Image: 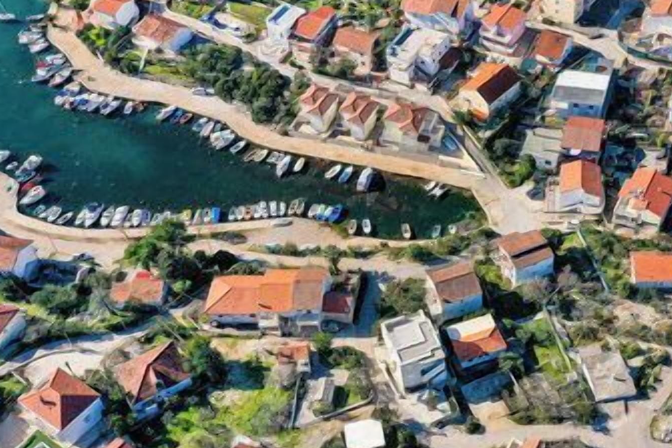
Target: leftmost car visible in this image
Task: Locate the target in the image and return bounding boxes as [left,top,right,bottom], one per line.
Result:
[72,251,94,264]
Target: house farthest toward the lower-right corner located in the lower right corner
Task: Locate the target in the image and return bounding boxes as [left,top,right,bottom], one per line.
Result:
[582,353,633,407]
